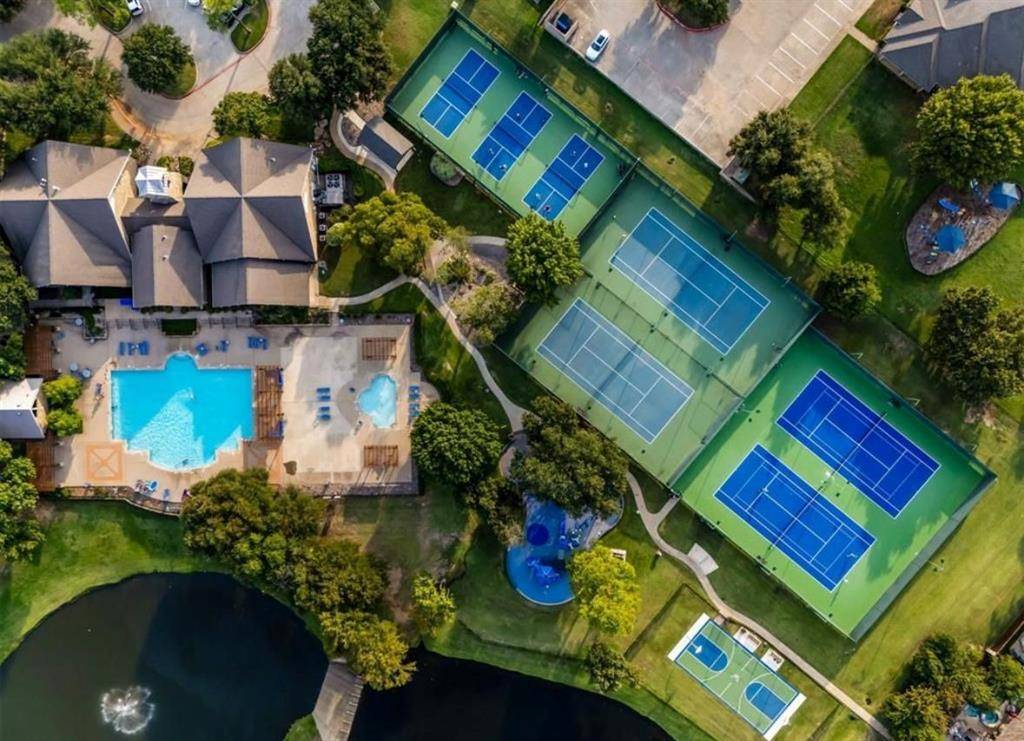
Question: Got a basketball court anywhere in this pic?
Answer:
Yes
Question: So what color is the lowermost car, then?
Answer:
white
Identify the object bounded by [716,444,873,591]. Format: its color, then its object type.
blue tennis court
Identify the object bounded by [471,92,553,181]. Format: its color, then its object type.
blue sports court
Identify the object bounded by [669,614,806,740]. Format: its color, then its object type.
green basketball court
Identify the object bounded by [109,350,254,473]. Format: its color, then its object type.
blue swimming pool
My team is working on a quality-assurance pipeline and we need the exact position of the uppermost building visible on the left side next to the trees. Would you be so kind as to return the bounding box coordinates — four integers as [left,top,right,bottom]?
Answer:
[360,117,416,173]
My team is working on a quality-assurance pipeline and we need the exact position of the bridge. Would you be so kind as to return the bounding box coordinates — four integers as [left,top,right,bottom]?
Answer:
[307,655,364,741]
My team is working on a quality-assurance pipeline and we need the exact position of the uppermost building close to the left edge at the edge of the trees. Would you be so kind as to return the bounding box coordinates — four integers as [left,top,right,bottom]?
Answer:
[0,136,320,308]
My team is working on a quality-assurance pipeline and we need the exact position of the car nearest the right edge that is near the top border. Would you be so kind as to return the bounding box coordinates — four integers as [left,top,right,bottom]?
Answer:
[588,26,611,60]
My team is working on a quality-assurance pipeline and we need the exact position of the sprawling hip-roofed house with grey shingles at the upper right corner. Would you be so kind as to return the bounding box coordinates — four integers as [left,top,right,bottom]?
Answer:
[880,0,1024,96]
